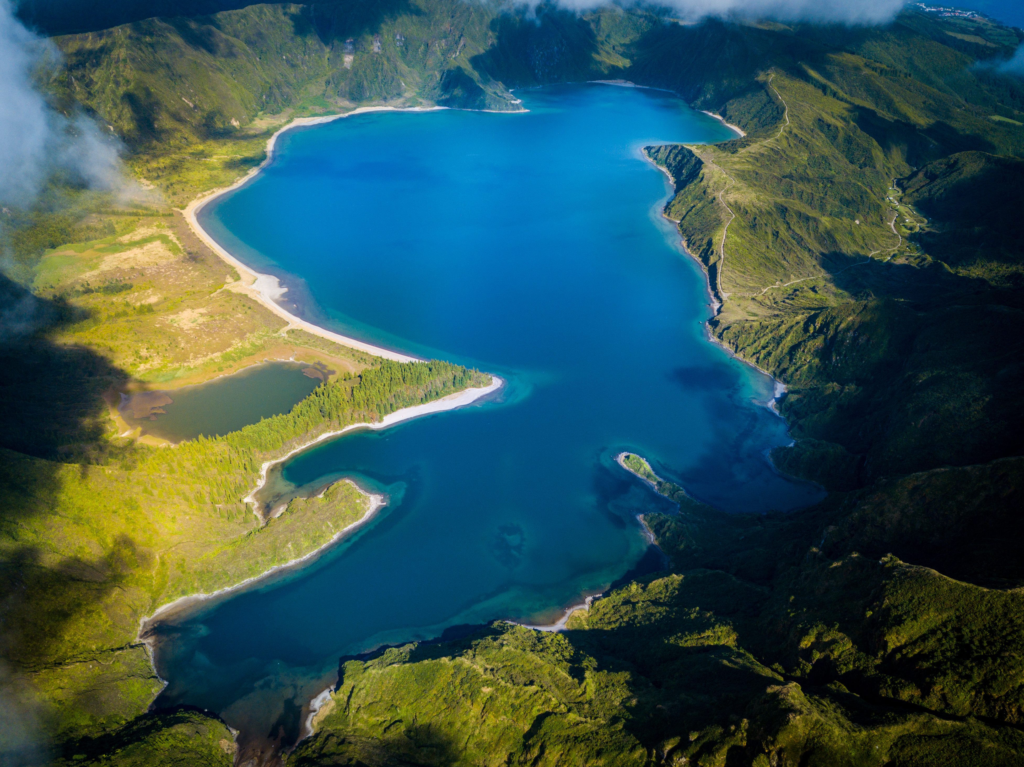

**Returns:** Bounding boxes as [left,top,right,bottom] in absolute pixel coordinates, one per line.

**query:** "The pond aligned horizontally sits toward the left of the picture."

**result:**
[116,360,326,444]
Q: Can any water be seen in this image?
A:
Yes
